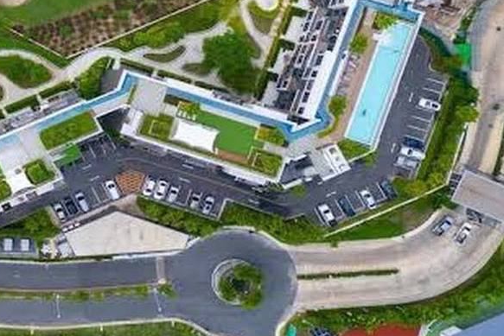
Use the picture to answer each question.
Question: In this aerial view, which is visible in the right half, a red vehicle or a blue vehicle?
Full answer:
It is a blue vehicle that can be seen in the right half.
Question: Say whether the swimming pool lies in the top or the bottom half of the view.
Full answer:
The swimming pool sits in the top half of the picture.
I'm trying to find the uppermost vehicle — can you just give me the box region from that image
[417,97,442,111]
